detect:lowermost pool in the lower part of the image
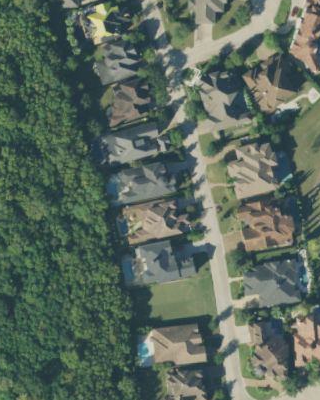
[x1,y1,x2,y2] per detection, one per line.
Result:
[138,332,154,366]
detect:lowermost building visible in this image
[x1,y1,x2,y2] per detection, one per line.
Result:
[160,368,206,400]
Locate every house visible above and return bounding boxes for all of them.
[200,70,253,130]
[243,259,302,308]
[188,0,228,24]
[242,58,301,113]
[96,40,138,86]
[160,368,206,400]
[138,241,200,286]
[237,202,296,251]
[118,162,178,202]
[290,316,320,368]
[105,80,152,127]
[228,143,278,200]
[248,322,294,381]
[102,123,173,162]
[290,0,320,71]
[123,200,192,244]
[87,2,126,45]
[151,324,207,366]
